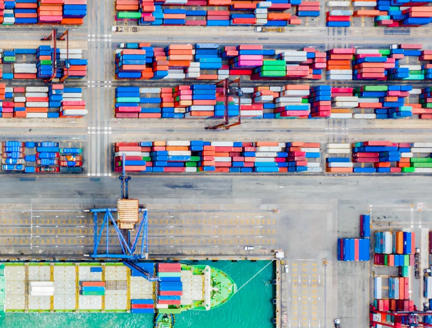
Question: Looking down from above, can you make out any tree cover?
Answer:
No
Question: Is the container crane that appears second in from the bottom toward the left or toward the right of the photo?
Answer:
left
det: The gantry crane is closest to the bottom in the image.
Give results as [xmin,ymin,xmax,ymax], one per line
[360,304,430,328]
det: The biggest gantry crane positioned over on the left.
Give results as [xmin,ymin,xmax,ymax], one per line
[80,133,165,283]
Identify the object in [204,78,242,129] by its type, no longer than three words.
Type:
container crane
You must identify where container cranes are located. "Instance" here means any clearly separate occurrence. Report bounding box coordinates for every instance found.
[360,304,430,328]
[40,29,71,82]
[80,133,165,283]
[204,78,242,129]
